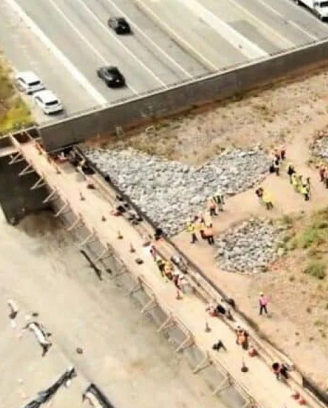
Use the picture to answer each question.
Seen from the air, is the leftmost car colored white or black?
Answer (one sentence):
The color of the leftmost car is white.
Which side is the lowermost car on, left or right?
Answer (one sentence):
You can find the lowermost car on the left side of the picture.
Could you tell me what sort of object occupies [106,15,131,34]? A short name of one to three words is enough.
car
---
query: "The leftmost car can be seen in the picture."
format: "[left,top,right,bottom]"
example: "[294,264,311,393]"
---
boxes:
[12,66,40,91]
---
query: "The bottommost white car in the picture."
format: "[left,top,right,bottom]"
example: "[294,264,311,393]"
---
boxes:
[33,87,62,113]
